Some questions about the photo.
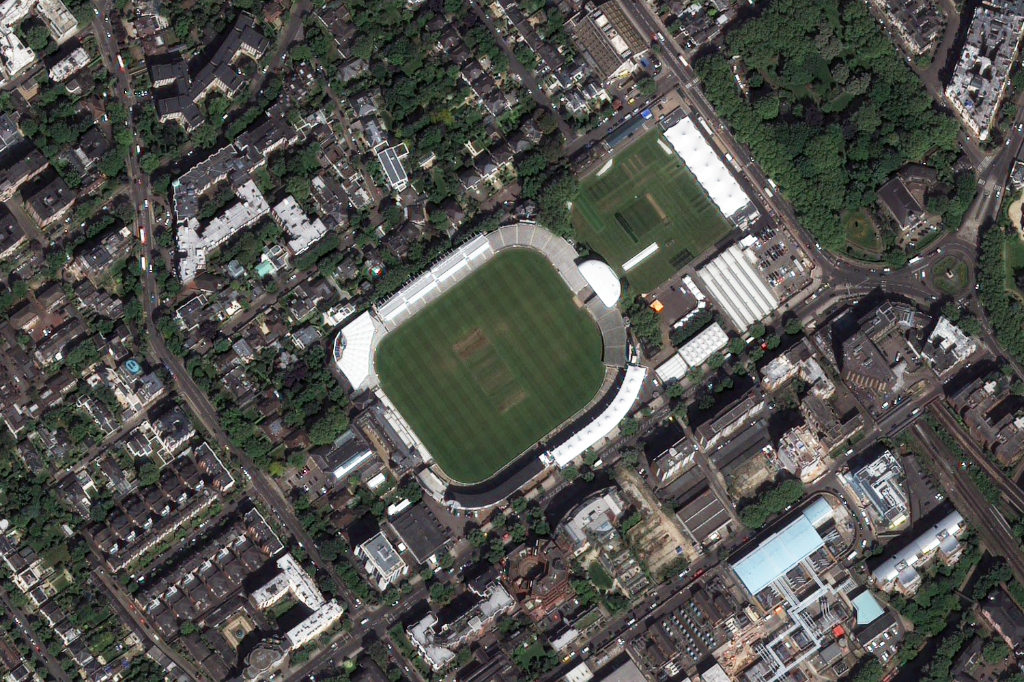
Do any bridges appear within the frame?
Yes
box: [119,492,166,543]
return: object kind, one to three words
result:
house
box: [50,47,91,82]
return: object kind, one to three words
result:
house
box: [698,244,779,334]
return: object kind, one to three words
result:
building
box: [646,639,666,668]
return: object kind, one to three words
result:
shed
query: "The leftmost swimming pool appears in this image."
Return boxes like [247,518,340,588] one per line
[120,360,140,377]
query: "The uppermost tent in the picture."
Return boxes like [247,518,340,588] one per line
[665,116,750,219]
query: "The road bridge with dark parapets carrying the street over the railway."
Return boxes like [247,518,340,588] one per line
[864,375,960,451]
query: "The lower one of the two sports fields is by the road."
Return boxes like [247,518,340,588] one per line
[375,246,607,485]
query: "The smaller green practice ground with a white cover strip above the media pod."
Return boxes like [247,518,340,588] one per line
[570,129,733,299]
